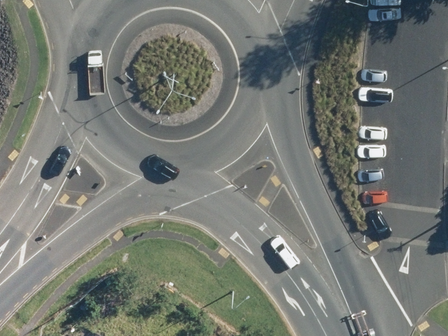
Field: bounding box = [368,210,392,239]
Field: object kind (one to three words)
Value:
car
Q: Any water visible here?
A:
No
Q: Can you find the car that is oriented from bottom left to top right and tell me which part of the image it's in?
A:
left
